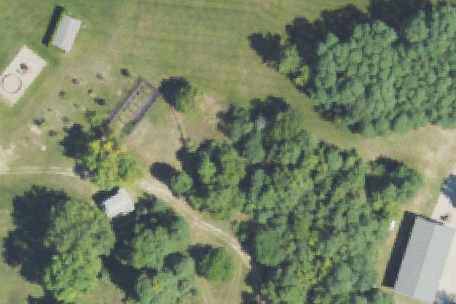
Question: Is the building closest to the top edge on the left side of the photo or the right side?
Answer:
left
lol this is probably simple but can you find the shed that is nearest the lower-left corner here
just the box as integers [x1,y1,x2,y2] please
[103,189,134,217]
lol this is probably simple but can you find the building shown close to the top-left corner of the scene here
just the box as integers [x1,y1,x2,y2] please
[52,16,82,52]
